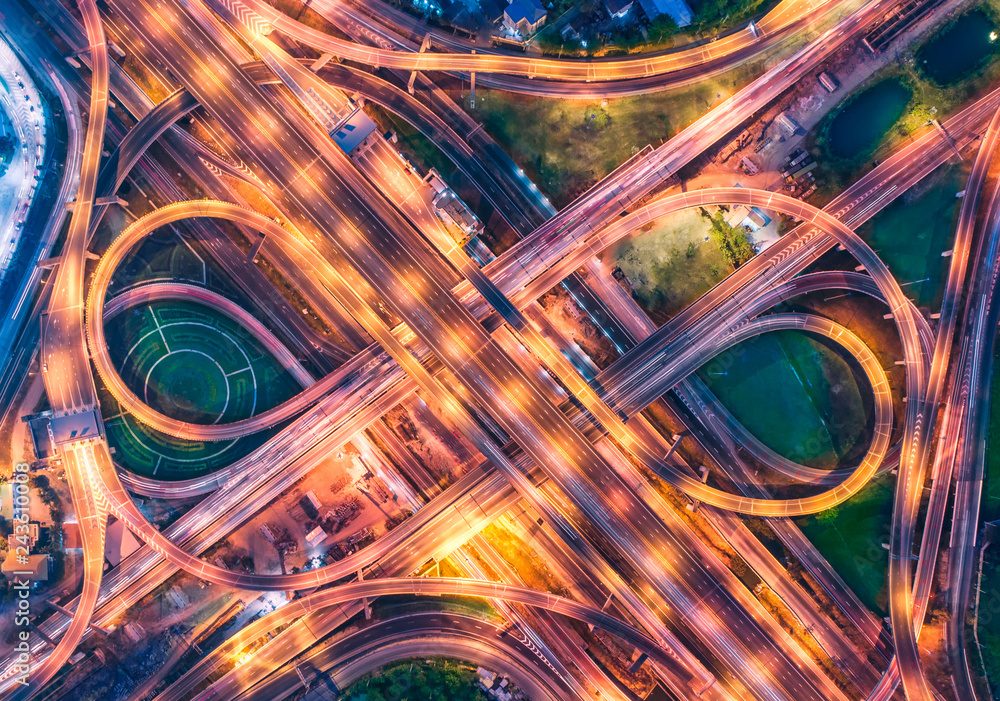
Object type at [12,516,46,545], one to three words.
building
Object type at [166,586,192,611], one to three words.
shed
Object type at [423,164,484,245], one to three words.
building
